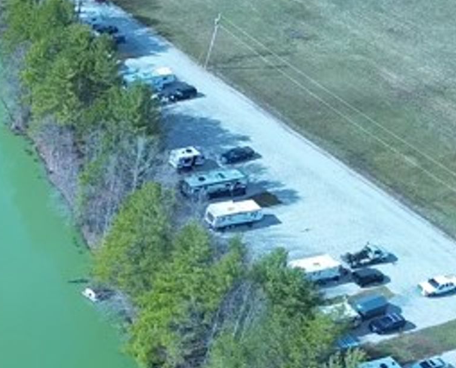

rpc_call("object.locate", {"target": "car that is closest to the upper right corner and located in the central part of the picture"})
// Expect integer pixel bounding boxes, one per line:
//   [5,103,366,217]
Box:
[222,145,255,160]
